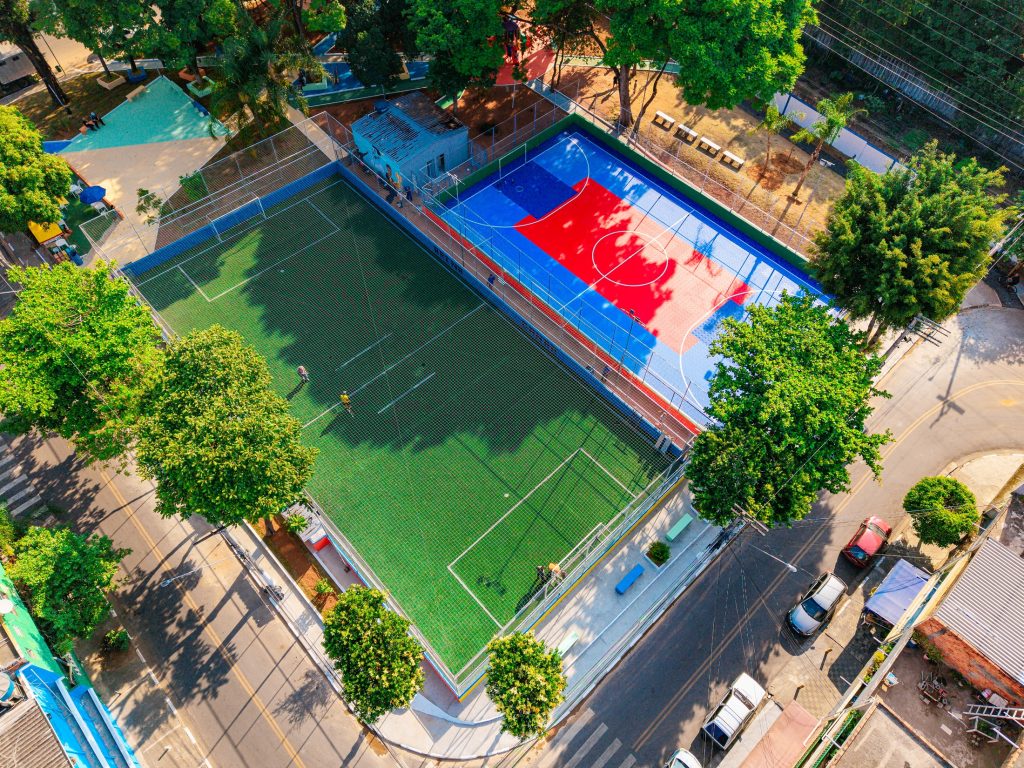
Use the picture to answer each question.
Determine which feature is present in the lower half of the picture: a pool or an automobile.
automobile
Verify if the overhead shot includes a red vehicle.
Yes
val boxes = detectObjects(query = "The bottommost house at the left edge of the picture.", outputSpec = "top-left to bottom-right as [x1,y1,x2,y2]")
[0,669,144,768]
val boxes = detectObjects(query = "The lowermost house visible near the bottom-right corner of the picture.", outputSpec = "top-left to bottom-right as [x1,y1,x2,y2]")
[828,697,960,768]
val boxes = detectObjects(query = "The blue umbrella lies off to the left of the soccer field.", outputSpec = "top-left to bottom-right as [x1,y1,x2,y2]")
[75,185,112,215]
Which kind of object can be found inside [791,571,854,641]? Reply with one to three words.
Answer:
car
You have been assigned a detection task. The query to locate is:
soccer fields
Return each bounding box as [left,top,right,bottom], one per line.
[127,172,680,686]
